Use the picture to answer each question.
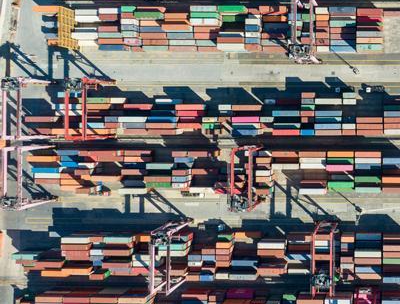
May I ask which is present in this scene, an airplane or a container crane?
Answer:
container crane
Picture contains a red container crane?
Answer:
Yes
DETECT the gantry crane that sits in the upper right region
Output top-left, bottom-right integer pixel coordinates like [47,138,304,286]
[291,0,325,69]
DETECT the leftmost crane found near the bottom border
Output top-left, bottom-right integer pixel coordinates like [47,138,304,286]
[148,217,198,296]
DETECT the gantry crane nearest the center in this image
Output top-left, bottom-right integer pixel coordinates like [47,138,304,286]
[229,141,270,213]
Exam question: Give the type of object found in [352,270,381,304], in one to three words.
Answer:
container crane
